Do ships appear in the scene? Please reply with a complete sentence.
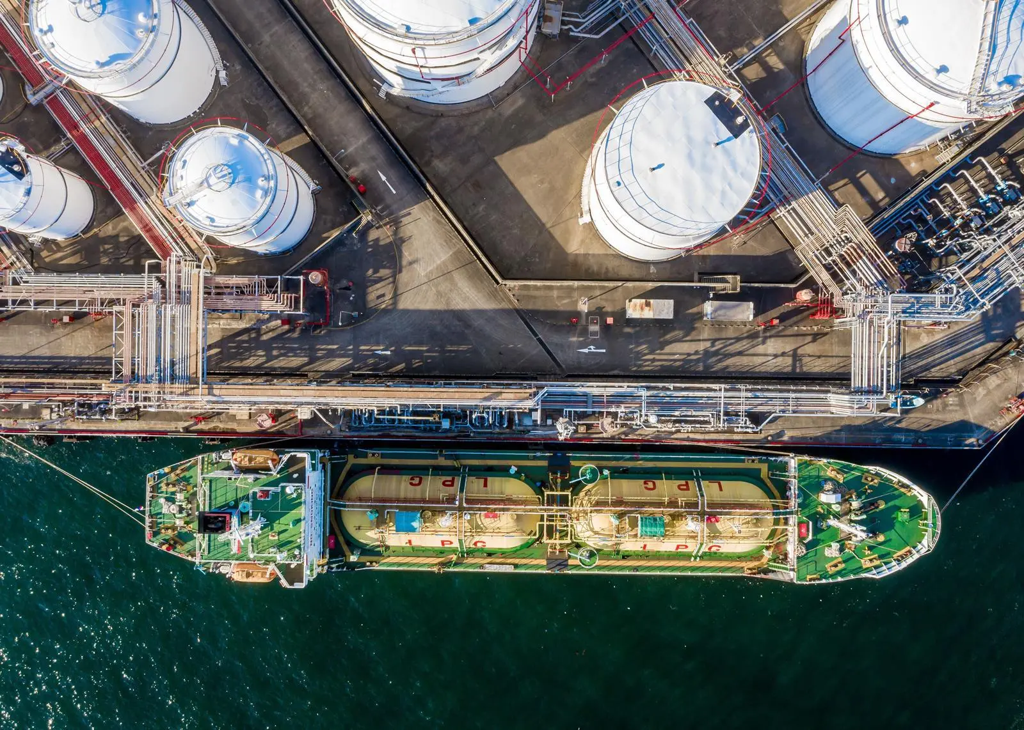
Yes, you can see a ship in this photo.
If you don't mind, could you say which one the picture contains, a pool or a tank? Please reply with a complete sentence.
It is a tank that can be seen here.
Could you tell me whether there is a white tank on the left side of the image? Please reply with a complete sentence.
Yes, the scene does show a white tank on the left side of the image.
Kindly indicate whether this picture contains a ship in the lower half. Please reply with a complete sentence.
Yes, a ship is visible in the lower half.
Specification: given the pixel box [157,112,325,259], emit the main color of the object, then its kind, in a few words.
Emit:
white storage tank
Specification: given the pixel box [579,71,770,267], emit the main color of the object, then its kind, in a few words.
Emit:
white storage tank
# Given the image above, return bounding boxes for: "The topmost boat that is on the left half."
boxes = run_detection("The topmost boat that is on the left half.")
[230,449,282,469]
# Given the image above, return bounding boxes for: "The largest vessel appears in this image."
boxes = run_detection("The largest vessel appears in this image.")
[137,449,946,589]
